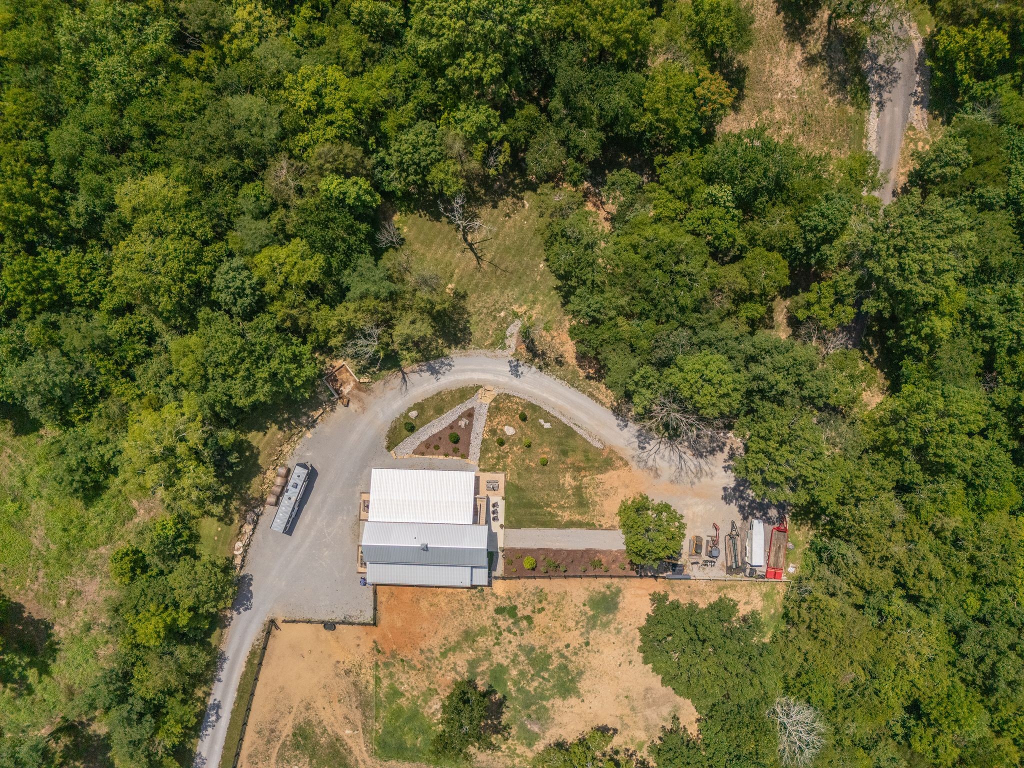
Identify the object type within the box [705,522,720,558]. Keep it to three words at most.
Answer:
work vehicle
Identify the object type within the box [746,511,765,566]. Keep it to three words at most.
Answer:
trailer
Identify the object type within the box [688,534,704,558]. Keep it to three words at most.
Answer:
work vehicle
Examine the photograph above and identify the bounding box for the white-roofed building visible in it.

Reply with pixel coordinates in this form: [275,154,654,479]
[362,468,488,587]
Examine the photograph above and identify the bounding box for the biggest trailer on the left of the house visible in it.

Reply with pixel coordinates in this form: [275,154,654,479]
[270,455,314,533]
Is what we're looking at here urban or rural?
rural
